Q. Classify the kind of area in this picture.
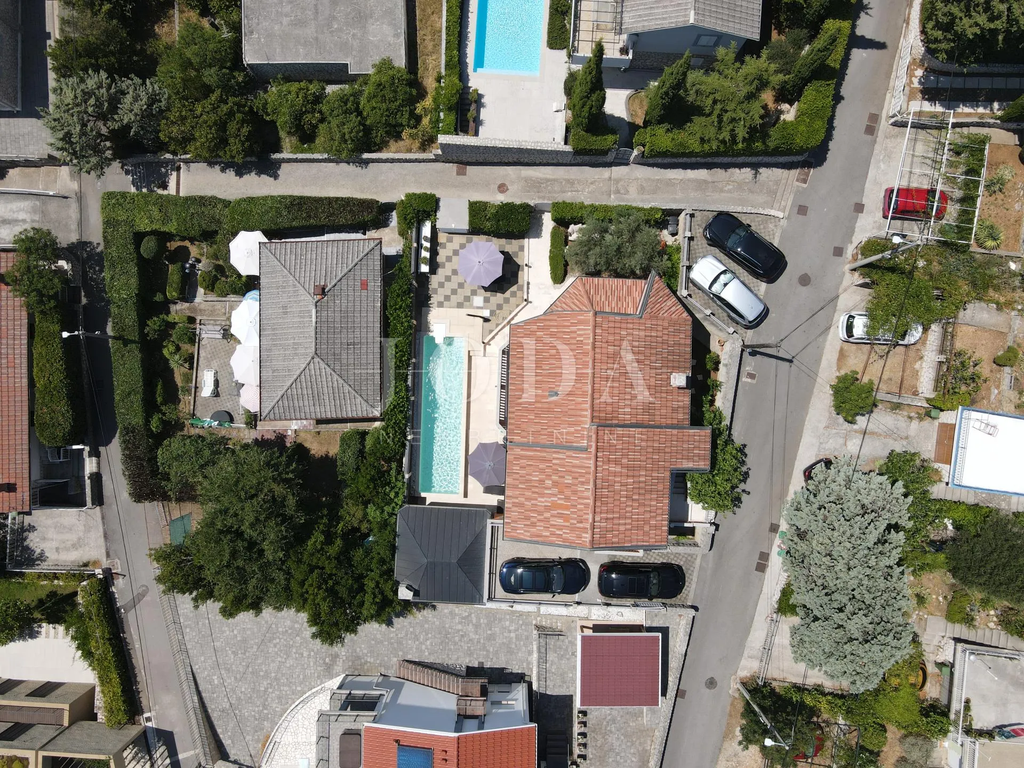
residential area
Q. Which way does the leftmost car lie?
from side to side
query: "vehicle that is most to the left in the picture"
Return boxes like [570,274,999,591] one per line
[500,556,590,600]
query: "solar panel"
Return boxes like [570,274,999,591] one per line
[398,744,433,768]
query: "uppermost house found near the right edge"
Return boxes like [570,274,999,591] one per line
[926,405,1024,498]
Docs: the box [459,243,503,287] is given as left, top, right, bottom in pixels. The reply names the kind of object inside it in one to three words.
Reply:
umbrella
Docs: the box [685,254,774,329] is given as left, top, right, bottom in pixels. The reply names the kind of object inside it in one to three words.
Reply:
car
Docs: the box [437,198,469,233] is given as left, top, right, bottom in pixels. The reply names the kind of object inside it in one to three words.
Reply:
shed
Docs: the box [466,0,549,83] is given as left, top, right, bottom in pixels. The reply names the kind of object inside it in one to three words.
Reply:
swimming pool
